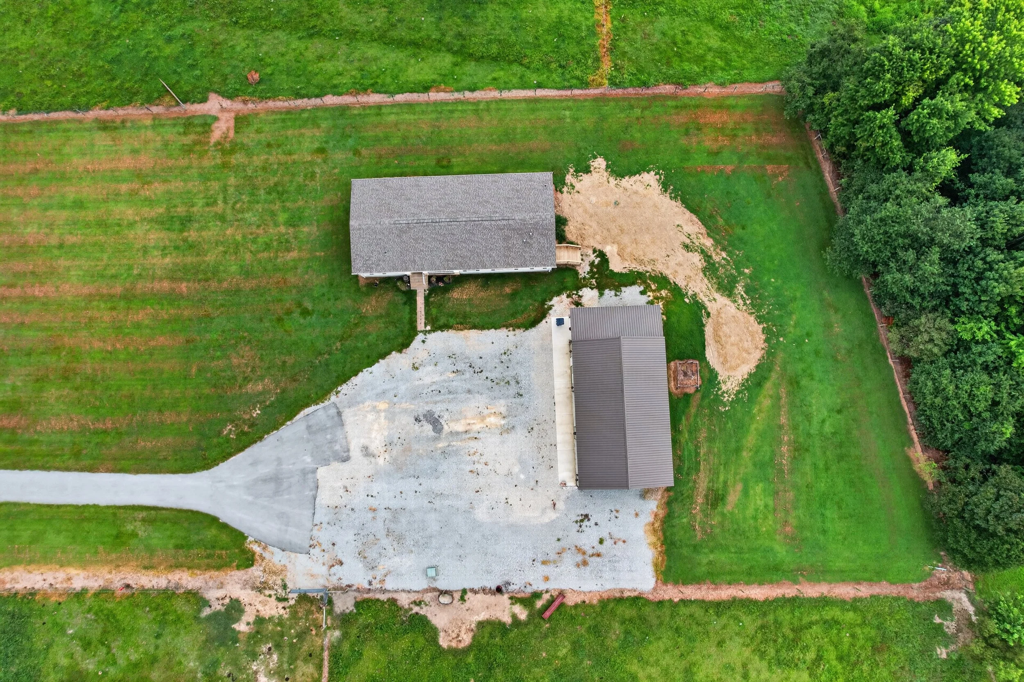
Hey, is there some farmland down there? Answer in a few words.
Yes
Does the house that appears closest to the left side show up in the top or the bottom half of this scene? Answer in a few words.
top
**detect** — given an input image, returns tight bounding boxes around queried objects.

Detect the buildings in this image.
[567,305,674,490]
[348,171,556,281]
